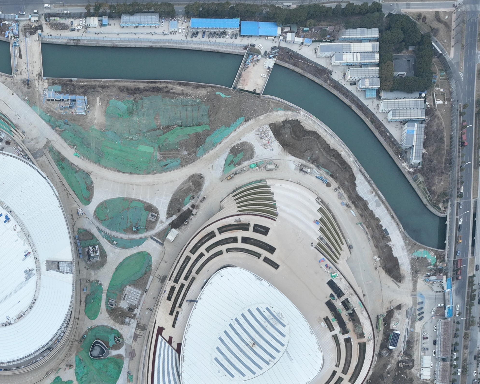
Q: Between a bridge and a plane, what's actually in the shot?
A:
bridge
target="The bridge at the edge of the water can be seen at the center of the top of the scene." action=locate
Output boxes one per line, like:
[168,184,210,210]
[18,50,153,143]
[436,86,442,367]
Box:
[228,42,276,98]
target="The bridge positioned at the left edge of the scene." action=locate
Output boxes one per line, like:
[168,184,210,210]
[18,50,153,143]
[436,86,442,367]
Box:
[13,38,44,80]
